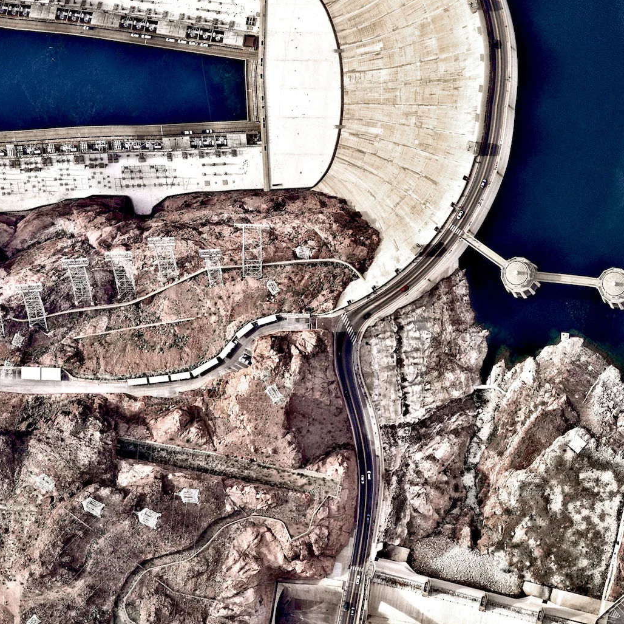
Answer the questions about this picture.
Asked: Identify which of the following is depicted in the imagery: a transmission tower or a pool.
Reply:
transmission tower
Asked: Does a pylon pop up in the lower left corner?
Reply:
Yes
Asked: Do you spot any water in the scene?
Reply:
Yes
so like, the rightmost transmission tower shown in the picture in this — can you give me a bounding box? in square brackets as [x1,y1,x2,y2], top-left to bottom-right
[294,244,312,265]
